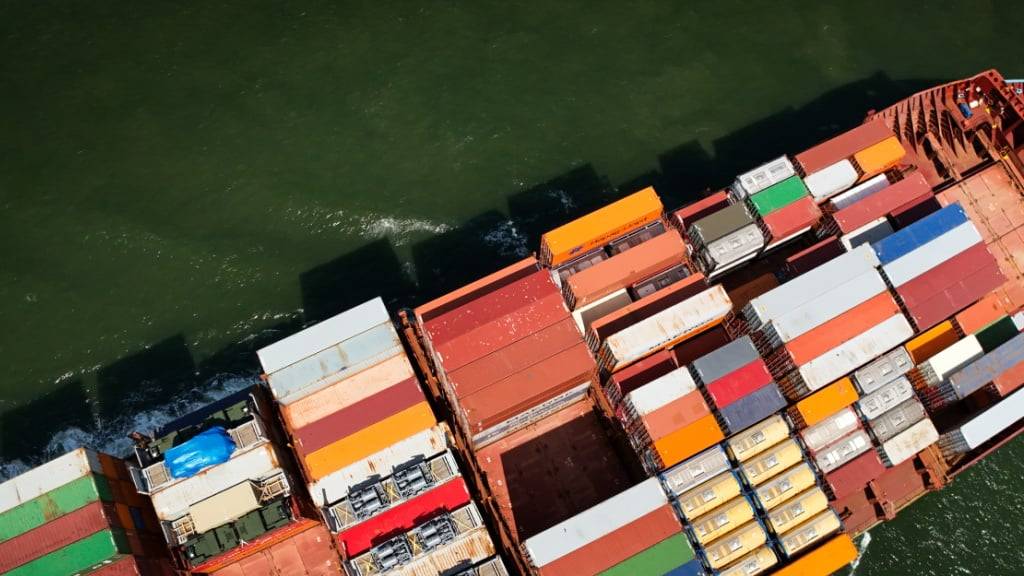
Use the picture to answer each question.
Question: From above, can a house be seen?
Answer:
No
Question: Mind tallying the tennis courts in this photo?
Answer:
none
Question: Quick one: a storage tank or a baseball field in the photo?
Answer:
storage tank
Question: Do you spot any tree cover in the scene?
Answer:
No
